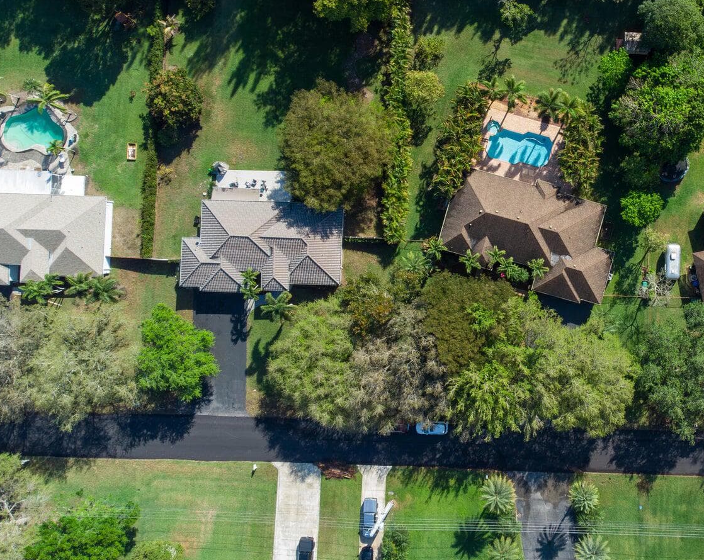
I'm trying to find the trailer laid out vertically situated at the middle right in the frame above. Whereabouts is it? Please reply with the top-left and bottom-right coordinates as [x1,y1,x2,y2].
[663,237,682,280]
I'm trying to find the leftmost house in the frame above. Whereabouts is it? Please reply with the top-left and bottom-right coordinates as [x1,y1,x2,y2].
[0,193,114,284]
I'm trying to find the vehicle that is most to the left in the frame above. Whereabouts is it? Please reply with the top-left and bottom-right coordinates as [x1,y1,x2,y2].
[299,535,316,560]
